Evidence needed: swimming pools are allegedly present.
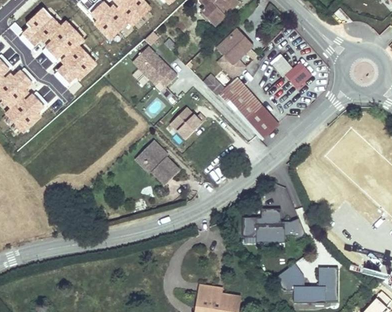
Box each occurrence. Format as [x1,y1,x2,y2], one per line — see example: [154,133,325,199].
[170,132,185,147]
[144,96,168,120]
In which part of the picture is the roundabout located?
top right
